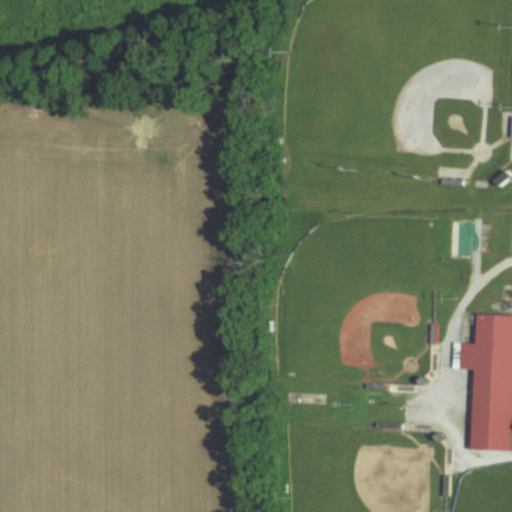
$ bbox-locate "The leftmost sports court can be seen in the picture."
[452,220,479,258]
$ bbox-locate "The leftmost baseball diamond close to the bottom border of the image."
[288,418,444,512]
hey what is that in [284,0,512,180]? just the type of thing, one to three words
baseball field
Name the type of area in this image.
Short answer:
sports ground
